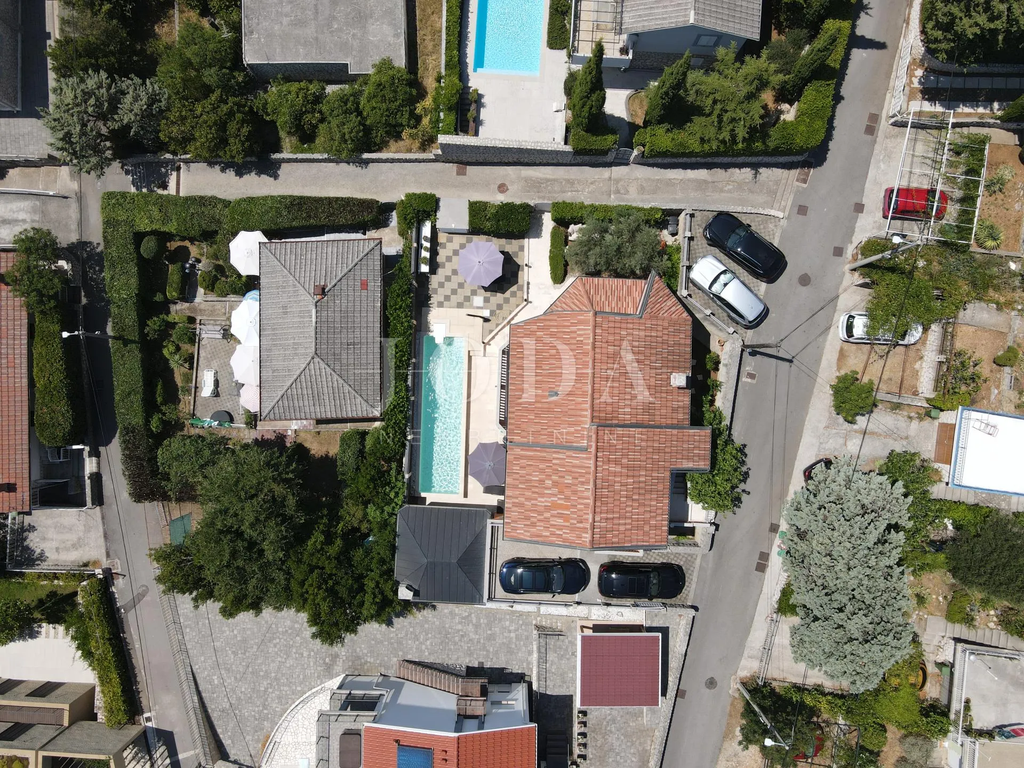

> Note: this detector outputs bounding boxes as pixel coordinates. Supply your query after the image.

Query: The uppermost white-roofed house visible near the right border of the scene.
[926,405,1024,498]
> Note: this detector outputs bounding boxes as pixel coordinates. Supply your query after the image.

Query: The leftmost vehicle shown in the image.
[500,556,590,600]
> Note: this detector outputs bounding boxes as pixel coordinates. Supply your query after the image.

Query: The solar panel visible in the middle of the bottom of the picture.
[398,744,433,768]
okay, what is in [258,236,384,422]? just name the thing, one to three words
house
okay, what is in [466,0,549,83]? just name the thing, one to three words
swimming pool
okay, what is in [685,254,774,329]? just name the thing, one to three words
car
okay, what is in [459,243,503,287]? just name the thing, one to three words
umbrella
